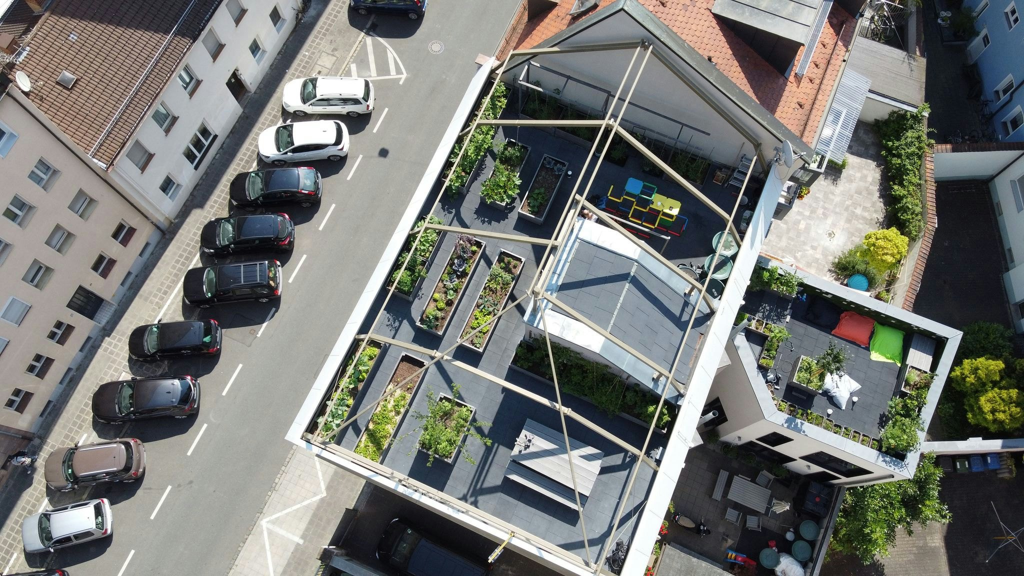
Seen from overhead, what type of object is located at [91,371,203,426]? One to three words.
car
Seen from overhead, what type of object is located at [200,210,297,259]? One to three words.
car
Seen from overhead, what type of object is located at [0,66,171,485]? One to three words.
house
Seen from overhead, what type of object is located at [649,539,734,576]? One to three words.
building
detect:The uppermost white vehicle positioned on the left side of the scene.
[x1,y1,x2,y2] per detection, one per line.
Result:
[282,74,376,121]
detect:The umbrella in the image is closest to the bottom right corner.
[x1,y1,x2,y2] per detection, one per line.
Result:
[764,494,792,517]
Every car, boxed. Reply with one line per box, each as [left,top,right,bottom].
[183,255,284,309]
[257,120,351,167]
[229,165,324,213]
[91,371,203,426]
[43,435,150,492]
[347,0,428,19]
[21,497,117,557]
[282,74,376,121]
[128,314,224,366]
[200,210,297,259]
